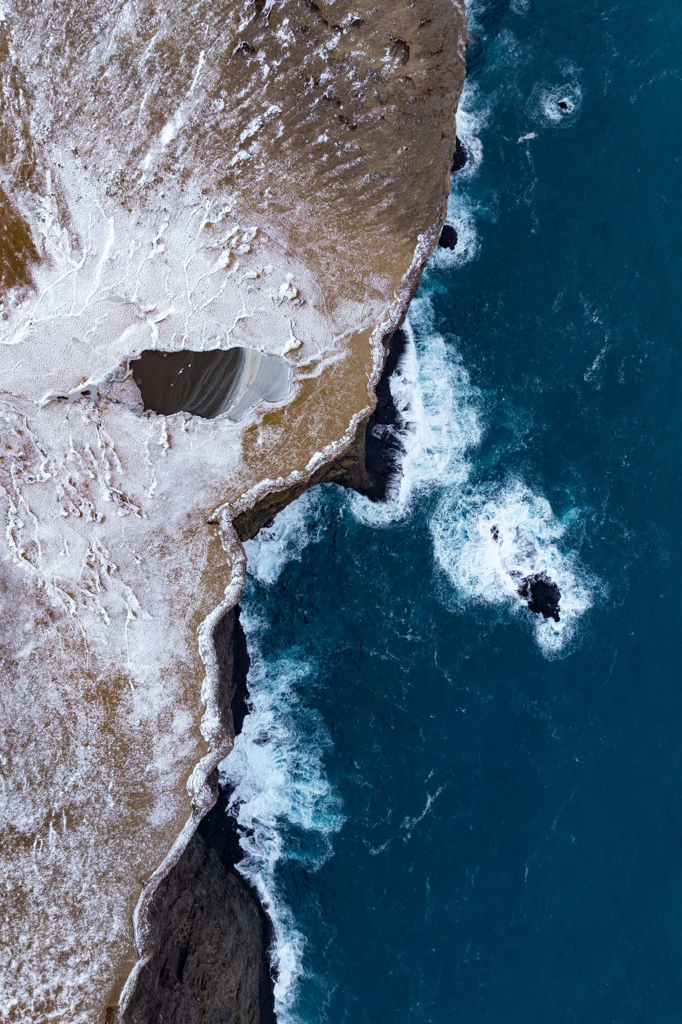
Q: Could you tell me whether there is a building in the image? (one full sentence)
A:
No, the frame has no building in it.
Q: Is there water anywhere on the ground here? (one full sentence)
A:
Yes, the picture does contain water.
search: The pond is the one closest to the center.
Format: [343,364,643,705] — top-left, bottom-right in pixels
[130,348,290,420]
